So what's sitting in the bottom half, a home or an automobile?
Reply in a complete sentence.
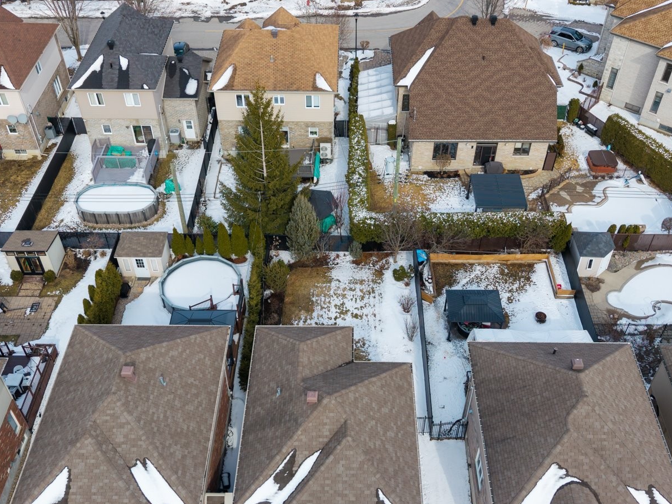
Looking in the bottom half, you will find a home.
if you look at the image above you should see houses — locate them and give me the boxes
[233,326,425,504]
[0,4,71,159]
[460,342,672,504]
[13,325,236,504]
[389,8,563,172]
[70,3,209,159]
[590,0,672,133]
[208,5,339,160]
